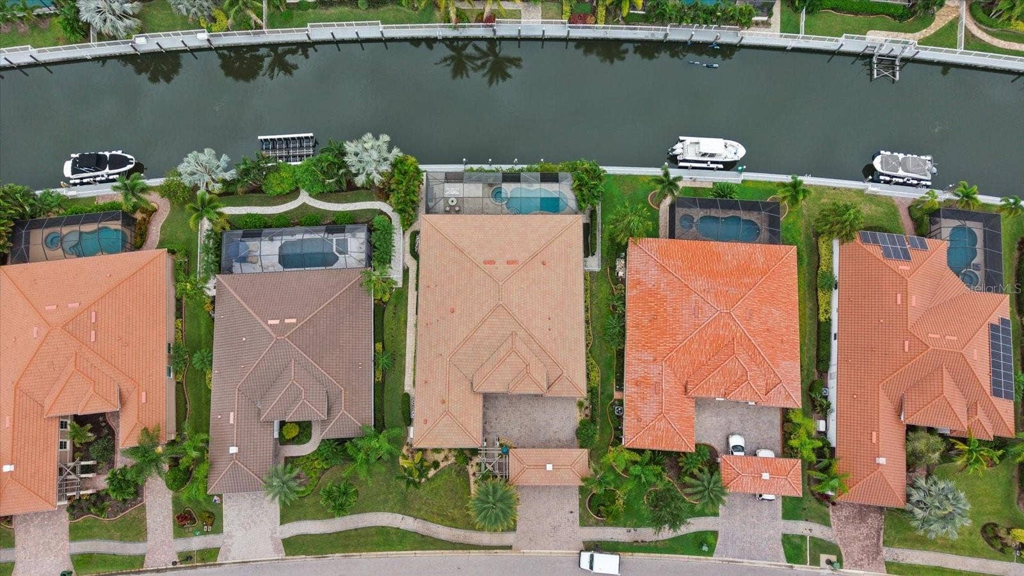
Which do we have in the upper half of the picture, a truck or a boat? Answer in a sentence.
It is a boat that can be seen in the upper half of the picture.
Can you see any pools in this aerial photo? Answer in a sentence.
Yes, you can see a pool in this photo.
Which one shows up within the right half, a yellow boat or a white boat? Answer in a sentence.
There is a white boat within the right half.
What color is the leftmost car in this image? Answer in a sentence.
In this view, the leftmost car is white.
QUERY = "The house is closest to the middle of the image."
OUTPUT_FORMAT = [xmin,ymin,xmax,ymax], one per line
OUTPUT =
[413,213,588,448]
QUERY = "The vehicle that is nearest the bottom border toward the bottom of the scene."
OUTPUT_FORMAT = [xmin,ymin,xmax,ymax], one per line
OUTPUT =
[577,548,622,575]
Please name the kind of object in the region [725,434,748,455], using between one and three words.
car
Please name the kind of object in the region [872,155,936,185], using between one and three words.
boat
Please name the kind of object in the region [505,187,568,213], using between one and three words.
swimming pool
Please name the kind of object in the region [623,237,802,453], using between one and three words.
house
